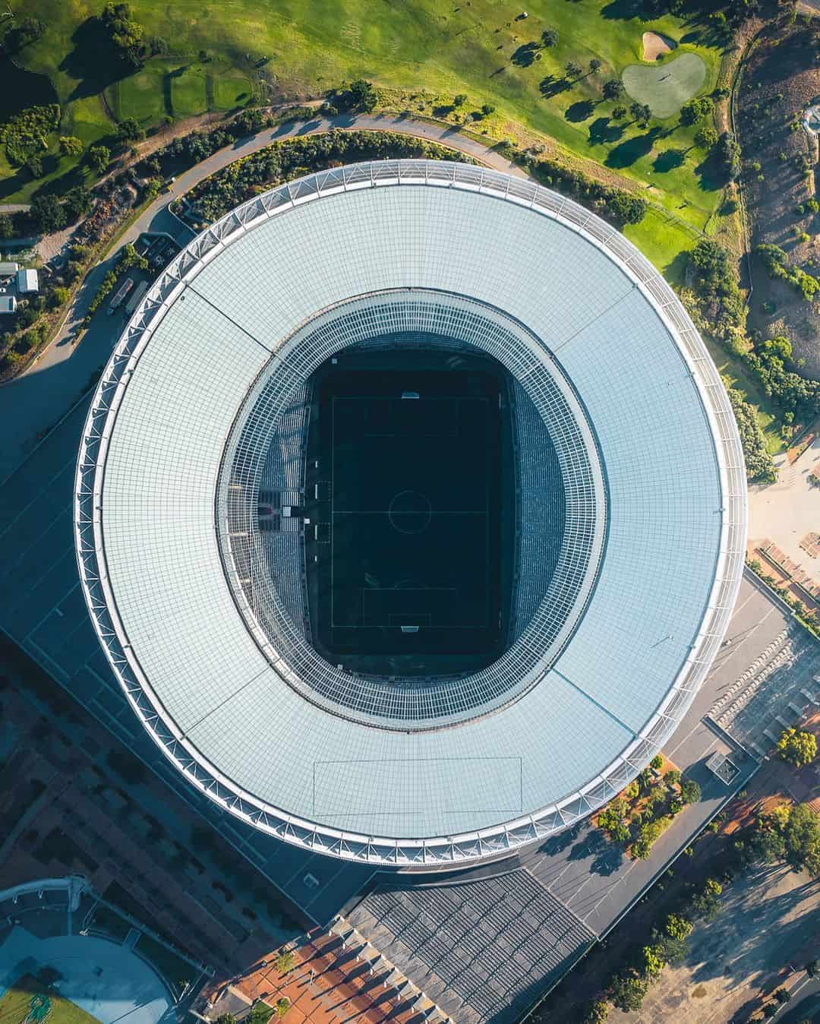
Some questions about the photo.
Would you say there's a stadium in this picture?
Yes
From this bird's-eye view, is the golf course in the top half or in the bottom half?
top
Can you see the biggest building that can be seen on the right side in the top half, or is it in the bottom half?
bottom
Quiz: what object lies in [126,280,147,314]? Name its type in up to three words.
truck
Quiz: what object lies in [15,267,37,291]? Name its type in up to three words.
shed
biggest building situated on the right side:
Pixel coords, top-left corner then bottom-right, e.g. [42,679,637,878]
[705,752,743,787]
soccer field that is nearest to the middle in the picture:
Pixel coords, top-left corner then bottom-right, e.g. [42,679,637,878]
[310,356,510,668]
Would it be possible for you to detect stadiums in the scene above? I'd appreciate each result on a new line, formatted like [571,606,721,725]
[73,158,749,865]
